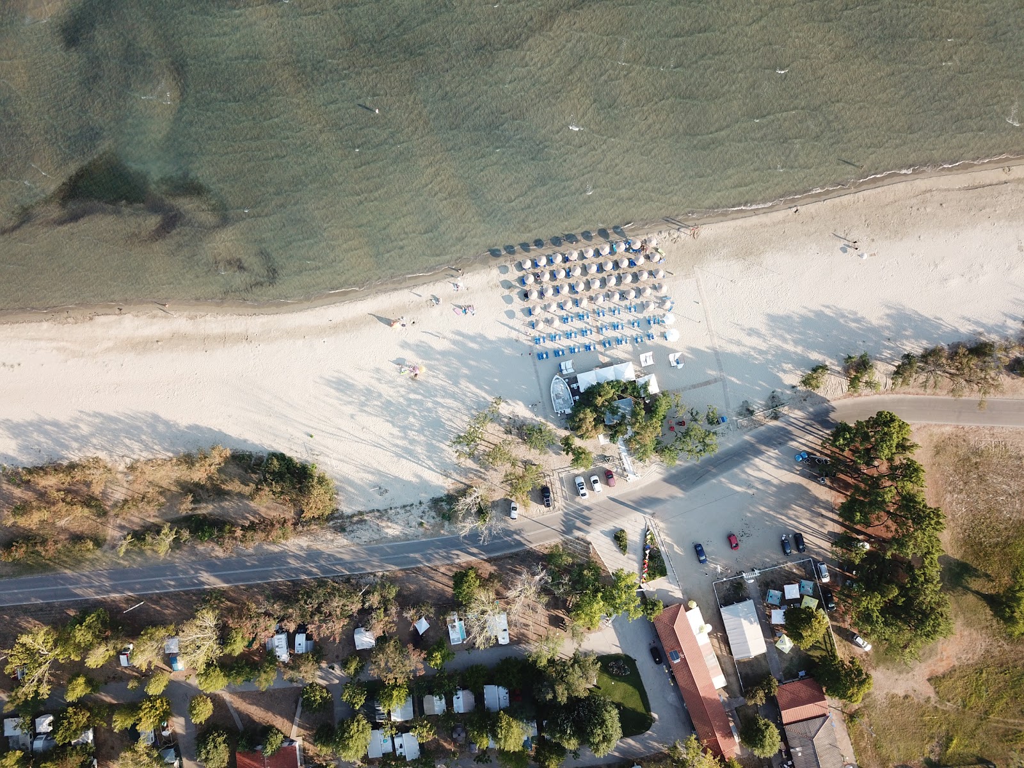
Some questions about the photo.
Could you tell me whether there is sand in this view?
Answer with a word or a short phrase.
Yes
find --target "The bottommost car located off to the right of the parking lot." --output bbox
[850,632,872,651]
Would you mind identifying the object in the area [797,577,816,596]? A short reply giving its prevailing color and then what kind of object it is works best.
blue gazebo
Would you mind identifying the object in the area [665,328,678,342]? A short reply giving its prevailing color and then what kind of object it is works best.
white umbrella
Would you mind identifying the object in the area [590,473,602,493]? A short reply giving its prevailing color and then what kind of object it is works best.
white vehicle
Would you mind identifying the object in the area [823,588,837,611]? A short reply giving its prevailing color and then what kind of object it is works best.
black car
